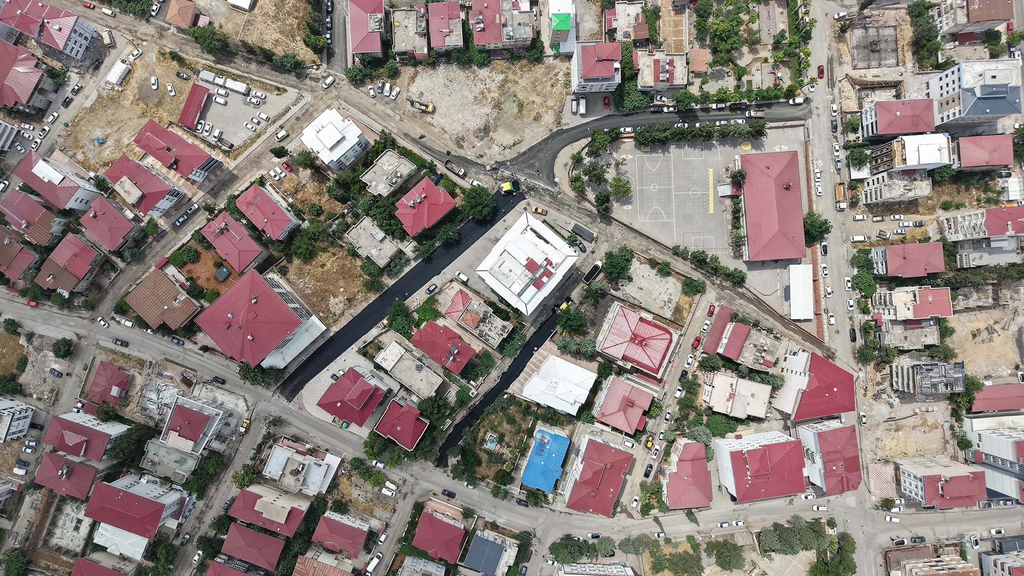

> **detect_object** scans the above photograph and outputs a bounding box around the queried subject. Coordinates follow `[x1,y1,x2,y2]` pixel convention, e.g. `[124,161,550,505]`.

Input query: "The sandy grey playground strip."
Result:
[759,0,788,45]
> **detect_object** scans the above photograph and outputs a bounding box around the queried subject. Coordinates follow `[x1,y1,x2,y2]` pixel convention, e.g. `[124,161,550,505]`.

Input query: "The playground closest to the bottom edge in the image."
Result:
[761,61,791,88]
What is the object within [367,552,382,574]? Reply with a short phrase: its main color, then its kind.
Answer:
white vehicle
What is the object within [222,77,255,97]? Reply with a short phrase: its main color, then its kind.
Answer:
white vehicle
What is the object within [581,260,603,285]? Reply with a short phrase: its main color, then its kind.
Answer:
black truck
